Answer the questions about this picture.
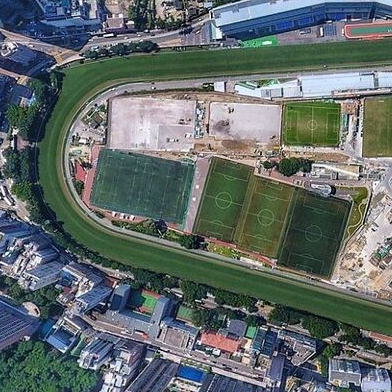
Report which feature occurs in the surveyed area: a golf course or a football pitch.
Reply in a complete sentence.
Of the two, only a football pitch appears.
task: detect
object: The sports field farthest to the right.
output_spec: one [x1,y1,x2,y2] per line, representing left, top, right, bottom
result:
[362,95,392,158]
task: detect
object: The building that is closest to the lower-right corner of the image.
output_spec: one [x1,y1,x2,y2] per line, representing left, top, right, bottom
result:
[359,368,391,392]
